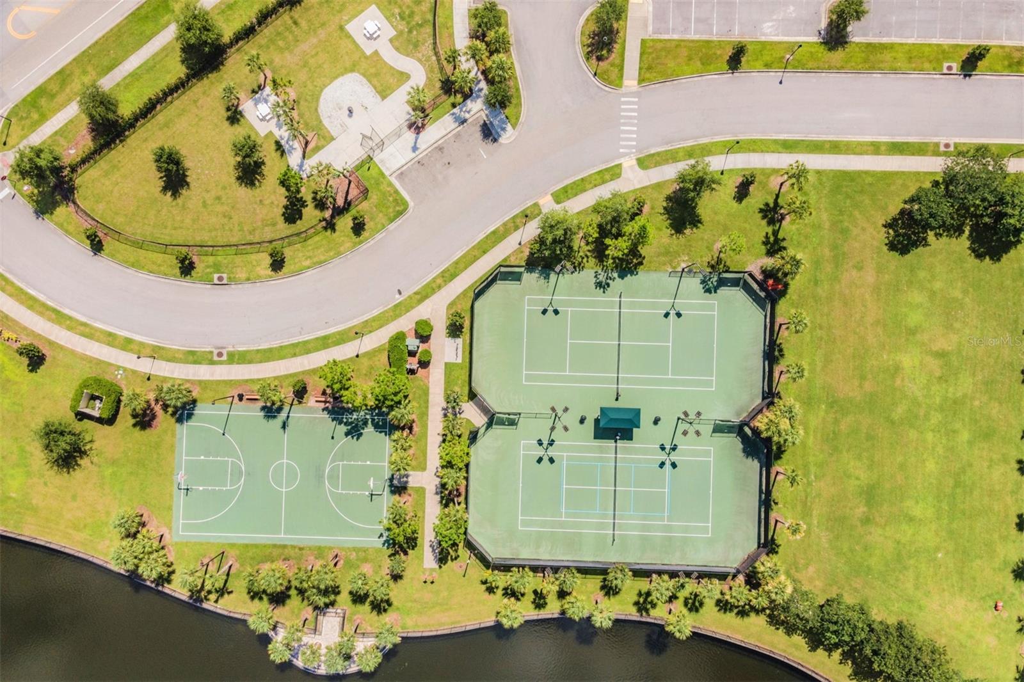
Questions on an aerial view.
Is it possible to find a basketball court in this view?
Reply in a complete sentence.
Yes, looking at the shot, I can spot a basketball court.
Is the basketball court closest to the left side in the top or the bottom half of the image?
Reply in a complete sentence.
The bottom half of the photo is where the basketball court closest to the left side is.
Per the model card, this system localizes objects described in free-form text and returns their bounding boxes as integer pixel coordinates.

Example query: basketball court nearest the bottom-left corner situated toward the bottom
[173,404,392,547]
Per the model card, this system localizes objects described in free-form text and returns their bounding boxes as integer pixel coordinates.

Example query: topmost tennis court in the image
[472,269,764,421]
